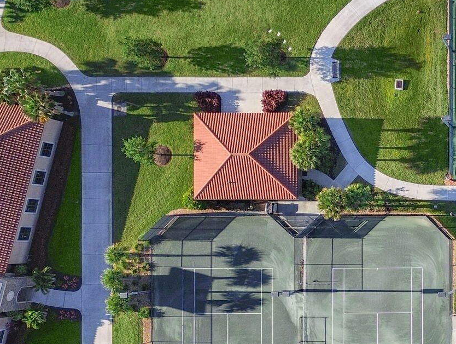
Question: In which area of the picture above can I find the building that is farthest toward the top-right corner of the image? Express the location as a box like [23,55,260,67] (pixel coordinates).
[194,112,302,200]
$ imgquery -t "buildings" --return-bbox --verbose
[0,103,62,344]
[194,112,302,200]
